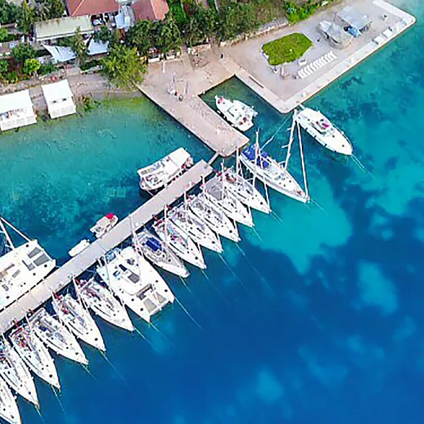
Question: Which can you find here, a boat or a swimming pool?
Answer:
boat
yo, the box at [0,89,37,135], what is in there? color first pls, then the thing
white gazebo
